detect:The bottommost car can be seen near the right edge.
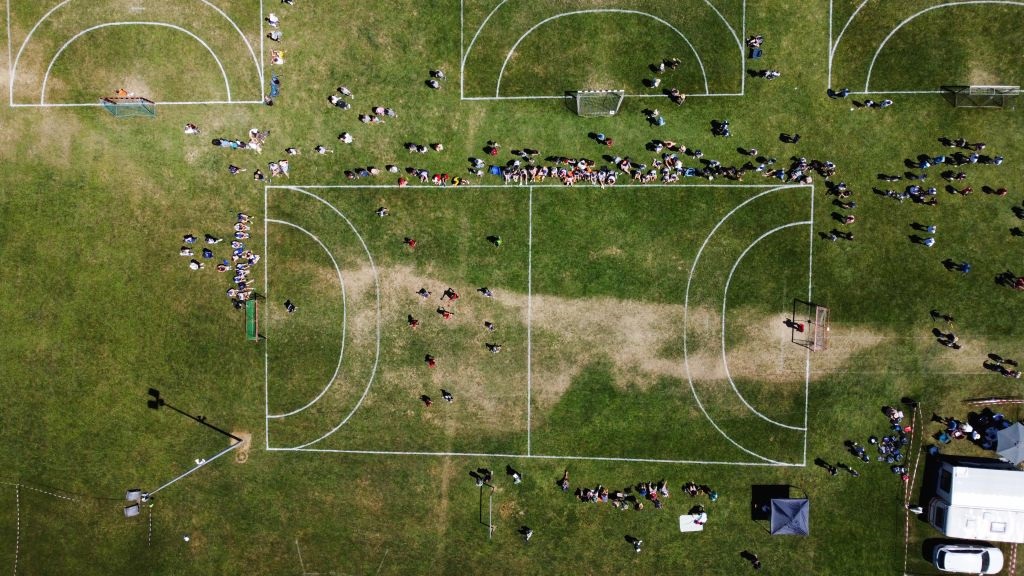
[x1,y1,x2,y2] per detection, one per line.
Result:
[935,540,1003,575]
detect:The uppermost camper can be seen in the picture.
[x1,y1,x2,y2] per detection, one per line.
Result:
[933,461,1024,507]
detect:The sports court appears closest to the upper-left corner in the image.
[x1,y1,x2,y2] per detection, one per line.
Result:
[6,0,264,106]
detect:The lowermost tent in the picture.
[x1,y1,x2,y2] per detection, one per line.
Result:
[761,491,810,536]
